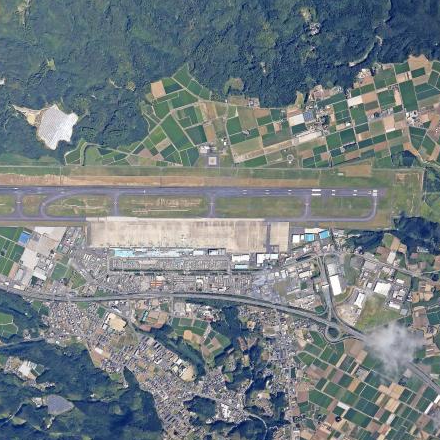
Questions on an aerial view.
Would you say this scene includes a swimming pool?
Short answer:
No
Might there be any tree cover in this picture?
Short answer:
Yes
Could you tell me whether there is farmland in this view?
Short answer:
Yes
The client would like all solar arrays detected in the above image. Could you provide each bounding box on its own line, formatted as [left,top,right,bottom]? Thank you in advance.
[38,105,78,149]
[43,394,75,415]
